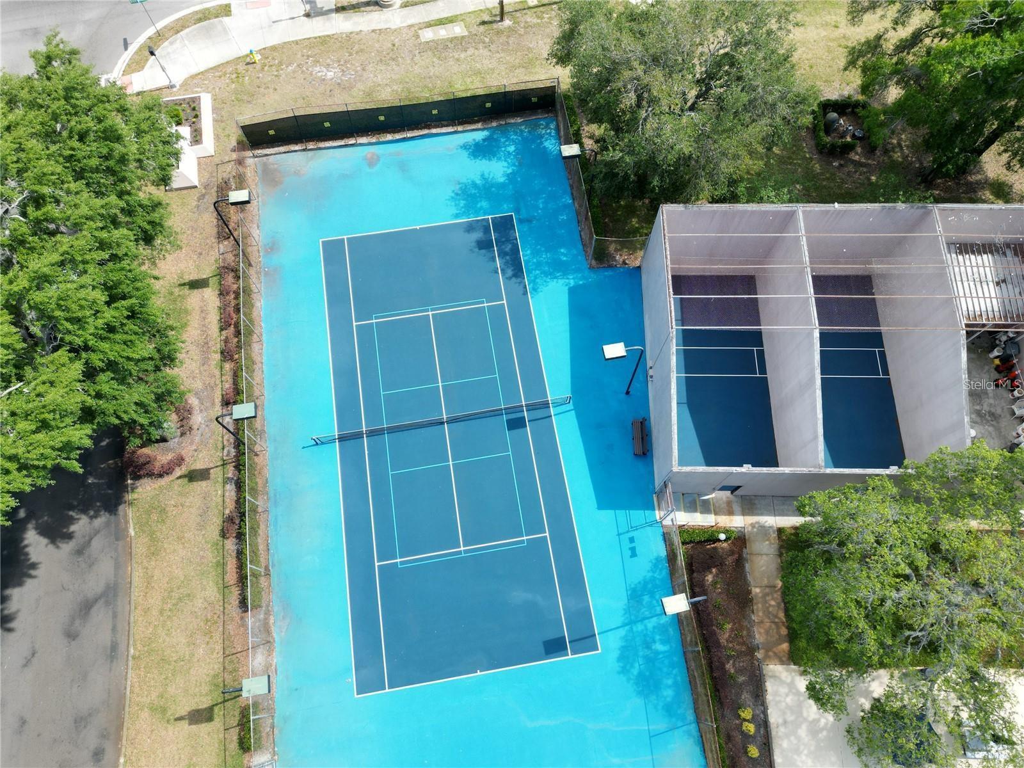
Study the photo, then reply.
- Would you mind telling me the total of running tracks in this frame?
0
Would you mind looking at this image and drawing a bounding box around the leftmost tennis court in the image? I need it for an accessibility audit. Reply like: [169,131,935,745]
[256,118,707,768]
